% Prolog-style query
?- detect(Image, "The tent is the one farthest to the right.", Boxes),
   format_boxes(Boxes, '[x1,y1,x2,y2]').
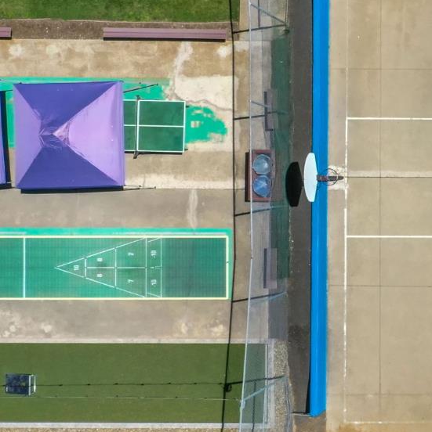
[15,82,162,192]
